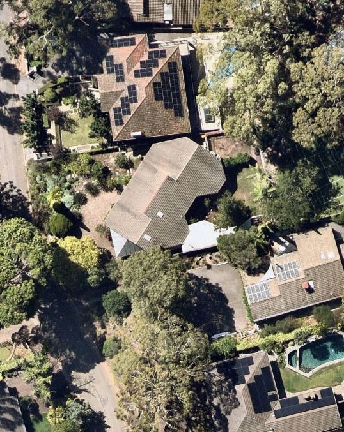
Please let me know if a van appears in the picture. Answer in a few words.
No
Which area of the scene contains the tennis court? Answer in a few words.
right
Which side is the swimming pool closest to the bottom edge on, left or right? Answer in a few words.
right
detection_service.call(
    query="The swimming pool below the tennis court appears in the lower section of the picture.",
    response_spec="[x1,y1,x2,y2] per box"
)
[286,328,344,376]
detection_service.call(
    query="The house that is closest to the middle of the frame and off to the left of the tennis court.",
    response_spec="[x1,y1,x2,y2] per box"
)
[104,136,228,257]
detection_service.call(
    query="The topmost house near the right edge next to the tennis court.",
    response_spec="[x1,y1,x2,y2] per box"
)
[245,226,344,322]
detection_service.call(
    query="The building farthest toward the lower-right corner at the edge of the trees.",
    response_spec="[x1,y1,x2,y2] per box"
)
[205,351,342,432]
